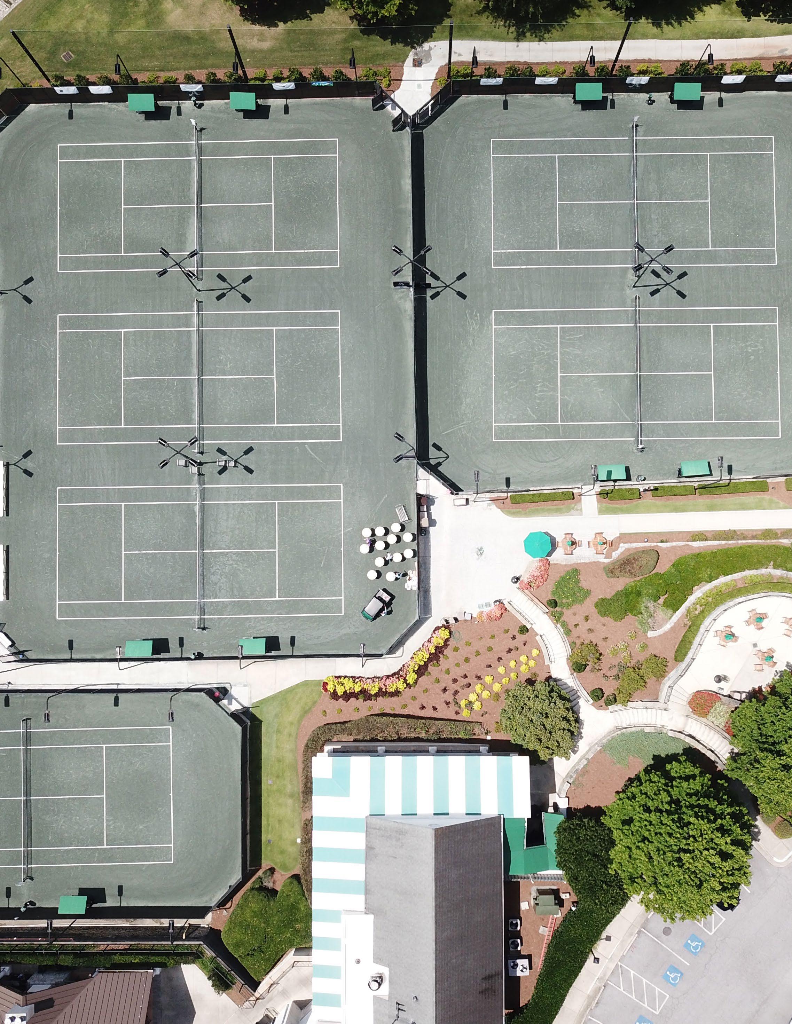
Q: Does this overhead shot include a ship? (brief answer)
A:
No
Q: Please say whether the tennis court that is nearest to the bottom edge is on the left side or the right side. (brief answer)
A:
left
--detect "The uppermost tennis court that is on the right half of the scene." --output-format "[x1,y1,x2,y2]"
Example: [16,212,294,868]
[439,116,792,288]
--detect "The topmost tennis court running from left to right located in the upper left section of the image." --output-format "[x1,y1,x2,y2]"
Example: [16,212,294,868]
[6,118,391,293]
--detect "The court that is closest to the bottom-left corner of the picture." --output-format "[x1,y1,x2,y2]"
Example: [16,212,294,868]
[0,705,226,887]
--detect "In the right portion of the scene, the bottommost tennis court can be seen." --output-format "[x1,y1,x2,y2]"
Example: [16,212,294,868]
[440,287,792,462]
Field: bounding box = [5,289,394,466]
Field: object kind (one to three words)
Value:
tennis court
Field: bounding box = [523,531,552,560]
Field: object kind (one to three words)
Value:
umbrella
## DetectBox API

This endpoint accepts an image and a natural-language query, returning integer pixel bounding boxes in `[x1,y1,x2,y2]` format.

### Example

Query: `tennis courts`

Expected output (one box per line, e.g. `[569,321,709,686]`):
[439,116,792,288]
[4,462,397,641]
[5,289,394,466]
[440,287,792,462]
[6,118,391,293]
[0,705,226,887]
